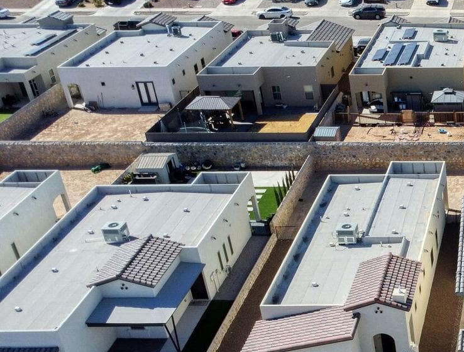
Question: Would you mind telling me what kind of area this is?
residential area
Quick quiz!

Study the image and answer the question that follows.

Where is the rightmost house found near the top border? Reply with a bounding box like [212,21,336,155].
[349,12,464,114]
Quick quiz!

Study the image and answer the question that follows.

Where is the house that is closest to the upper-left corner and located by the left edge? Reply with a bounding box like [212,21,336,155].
[0,4,121,106]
